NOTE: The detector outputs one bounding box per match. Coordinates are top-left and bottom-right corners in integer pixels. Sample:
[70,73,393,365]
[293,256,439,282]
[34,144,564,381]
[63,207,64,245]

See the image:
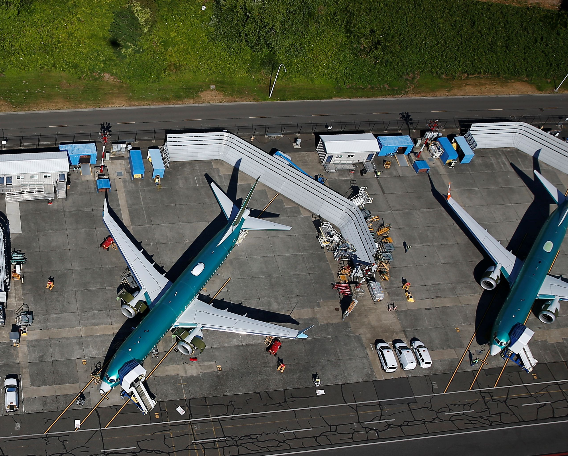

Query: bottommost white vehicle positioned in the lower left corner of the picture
[2,377,19,415]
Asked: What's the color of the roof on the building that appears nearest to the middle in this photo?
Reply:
white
